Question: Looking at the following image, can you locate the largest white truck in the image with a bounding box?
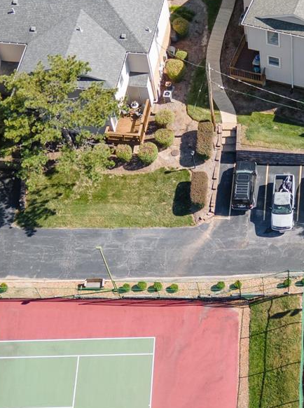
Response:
[267,172,297,229]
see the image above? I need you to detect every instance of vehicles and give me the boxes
[267,172,297,229]
[279,173,288,191]
[230,161,258,212]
